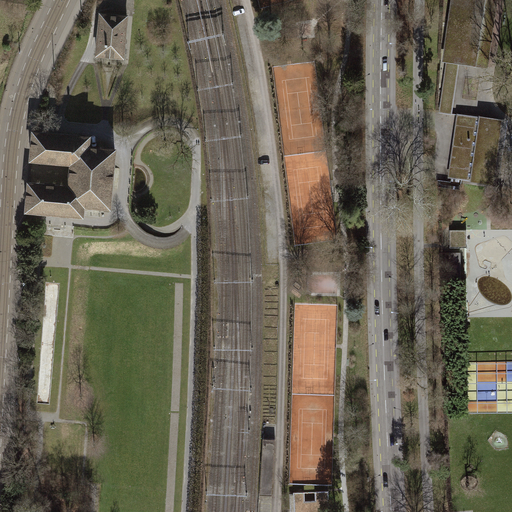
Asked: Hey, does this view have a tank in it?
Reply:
No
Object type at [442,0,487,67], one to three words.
building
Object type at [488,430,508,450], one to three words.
fountain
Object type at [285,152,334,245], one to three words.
tennis court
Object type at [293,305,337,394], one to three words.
tennis court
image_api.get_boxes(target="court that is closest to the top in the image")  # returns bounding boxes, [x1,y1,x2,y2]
[274,62,324,154]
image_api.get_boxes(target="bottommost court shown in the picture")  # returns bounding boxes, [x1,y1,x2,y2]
[290,395,335,484]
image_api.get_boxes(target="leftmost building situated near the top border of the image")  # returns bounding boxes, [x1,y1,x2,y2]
[96,13,128,64]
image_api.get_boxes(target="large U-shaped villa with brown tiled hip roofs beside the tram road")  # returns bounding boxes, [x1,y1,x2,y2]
[24,131,120,219]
